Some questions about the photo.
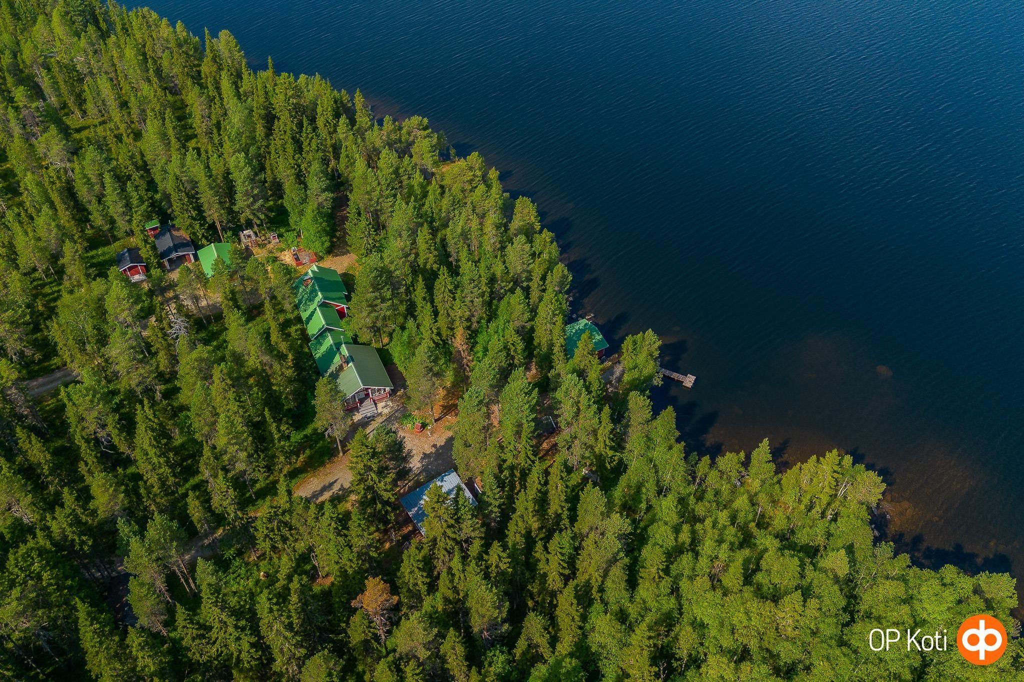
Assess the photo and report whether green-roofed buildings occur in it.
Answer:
Yes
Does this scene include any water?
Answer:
Yes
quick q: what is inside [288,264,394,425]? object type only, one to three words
building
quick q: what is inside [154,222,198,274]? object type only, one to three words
building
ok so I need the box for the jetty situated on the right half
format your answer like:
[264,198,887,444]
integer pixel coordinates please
[656,366,697,391]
